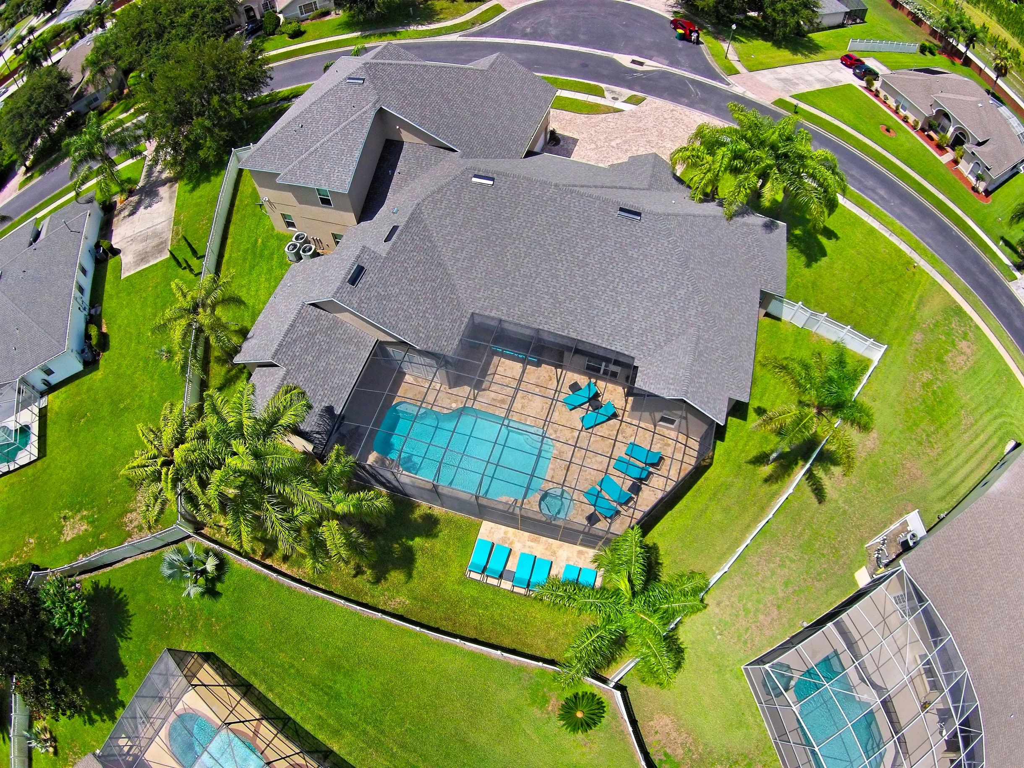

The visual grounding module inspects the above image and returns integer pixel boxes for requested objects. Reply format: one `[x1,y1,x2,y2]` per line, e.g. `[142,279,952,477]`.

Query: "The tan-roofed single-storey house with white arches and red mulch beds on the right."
[877,67,1024,190]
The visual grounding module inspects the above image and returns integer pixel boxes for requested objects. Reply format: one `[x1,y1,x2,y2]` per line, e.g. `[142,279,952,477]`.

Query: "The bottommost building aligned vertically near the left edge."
[0,190,102,406]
